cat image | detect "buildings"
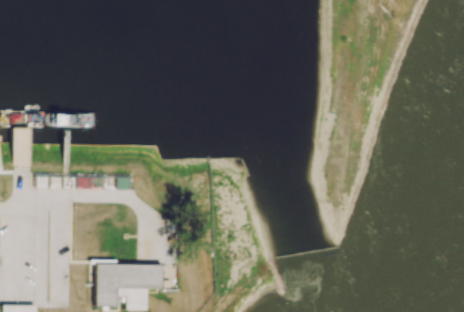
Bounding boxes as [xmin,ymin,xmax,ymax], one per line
[2,305,37,312]
[96,264,163,312]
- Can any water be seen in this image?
Yes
